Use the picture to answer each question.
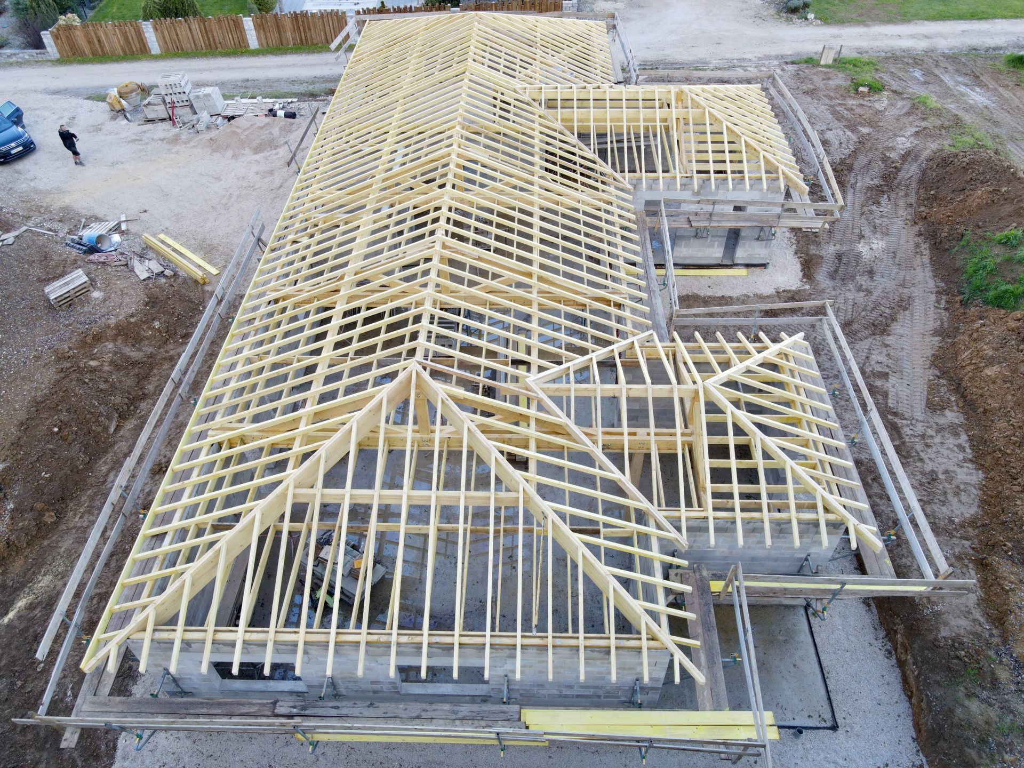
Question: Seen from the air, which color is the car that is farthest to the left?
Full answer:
The car that is farthest to the left looks blue in the image.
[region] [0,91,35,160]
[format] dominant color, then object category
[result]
blue car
